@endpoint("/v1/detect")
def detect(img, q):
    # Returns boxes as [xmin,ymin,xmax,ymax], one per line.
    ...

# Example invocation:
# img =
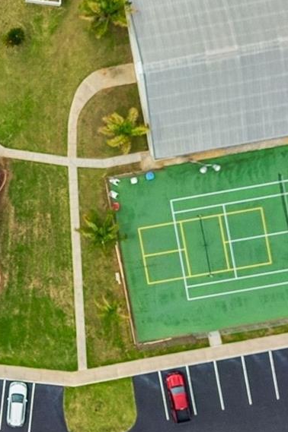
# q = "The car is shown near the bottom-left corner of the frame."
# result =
[7,380,29,428]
